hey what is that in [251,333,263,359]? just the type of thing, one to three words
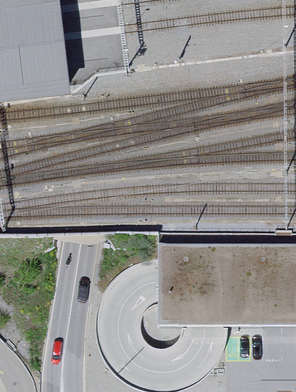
vehicle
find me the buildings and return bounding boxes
[0,0,70,102]
[158,243,296,329]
